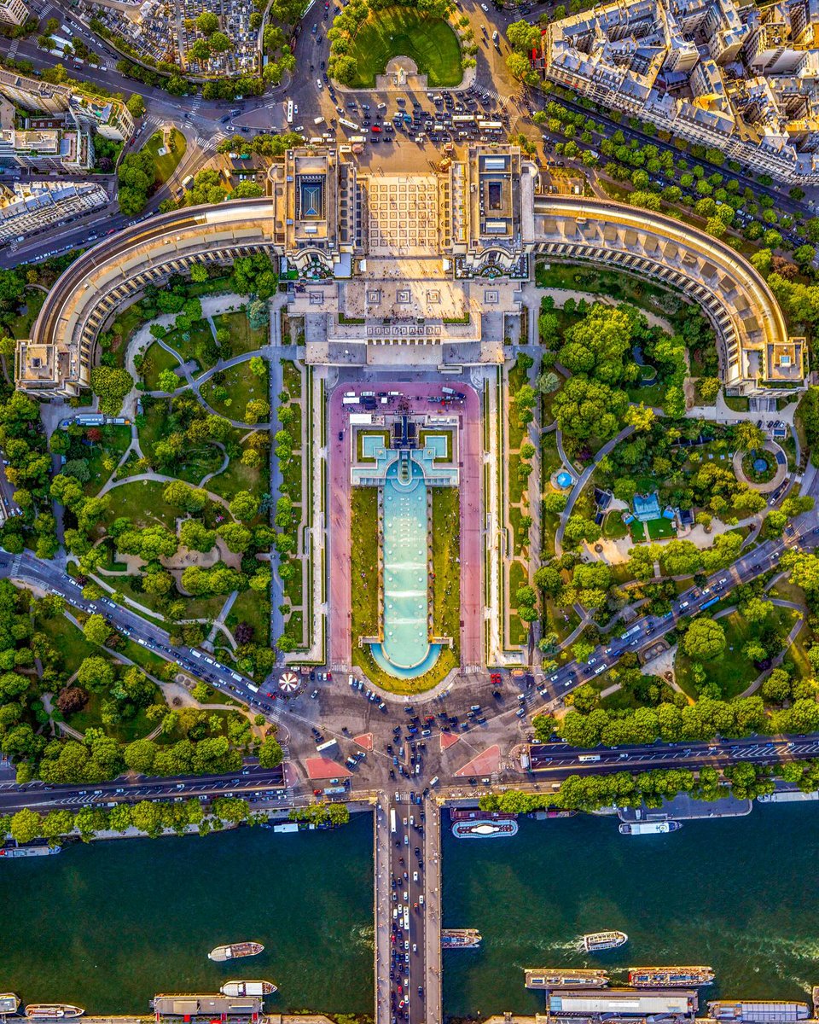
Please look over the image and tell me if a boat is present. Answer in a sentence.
Yes, this view includes a boat.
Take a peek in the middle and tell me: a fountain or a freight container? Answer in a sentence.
Visible in the middle is a fountain.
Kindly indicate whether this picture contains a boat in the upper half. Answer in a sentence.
No, I see no boat in the upper half.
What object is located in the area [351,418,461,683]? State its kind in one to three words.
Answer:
fountain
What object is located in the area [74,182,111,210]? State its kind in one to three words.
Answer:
building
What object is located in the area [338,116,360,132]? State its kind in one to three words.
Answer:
vehicle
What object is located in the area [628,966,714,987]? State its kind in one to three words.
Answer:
boat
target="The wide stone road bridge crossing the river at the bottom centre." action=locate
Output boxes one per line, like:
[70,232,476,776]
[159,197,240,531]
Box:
[372,798,446,1024]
